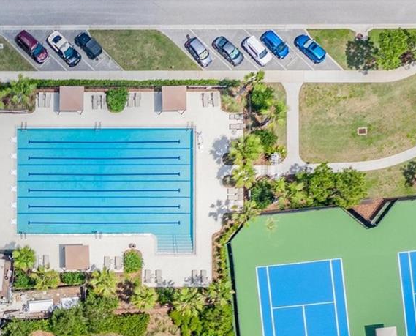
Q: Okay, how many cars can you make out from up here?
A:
8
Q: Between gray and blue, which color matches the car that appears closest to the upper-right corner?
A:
blue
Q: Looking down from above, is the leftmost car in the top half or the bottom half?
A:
top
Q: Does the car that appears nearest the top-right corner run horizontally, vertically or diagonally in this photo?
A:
diagonally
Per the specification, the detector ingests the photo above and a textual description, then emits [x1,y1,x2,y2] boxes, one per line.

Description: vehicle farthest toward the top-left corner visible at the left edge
[15,29,48,65]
